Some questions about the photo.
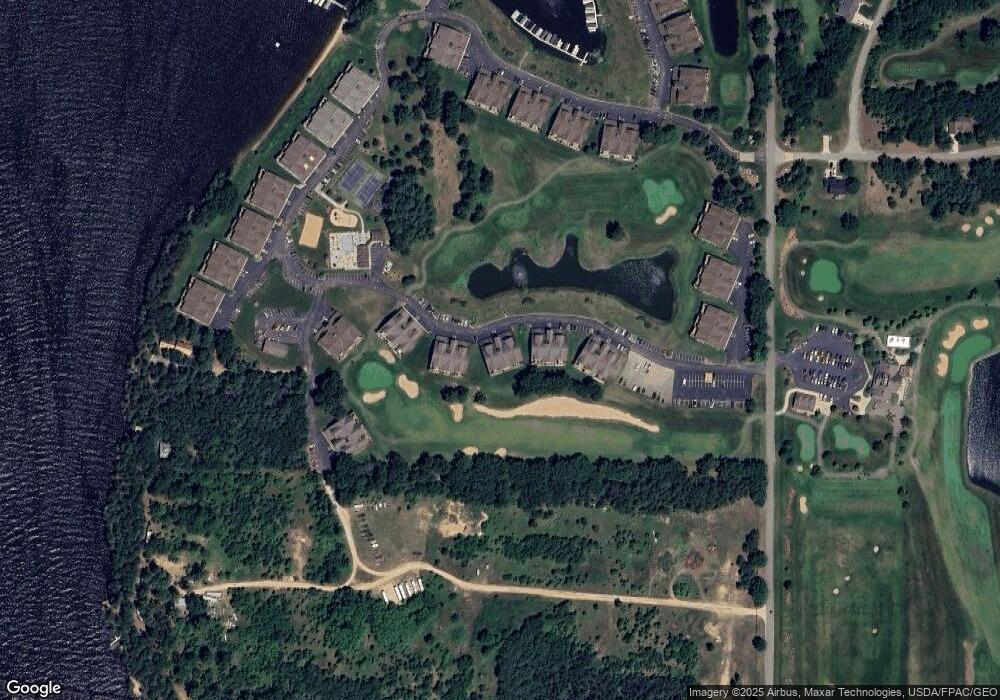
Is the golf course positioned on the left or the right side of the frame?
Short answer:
right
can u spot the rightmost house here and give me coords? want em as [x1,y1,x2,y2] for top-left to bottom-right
[947,118,975,134]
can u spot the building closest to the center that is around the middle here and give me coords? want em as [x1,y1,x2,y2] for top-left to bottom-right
[481,334,523,377]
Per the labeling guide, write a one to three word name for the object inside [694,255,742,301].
building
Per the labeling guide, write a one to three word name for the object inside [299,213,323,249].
sports court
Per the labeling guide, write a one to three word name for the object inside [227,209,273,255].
building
